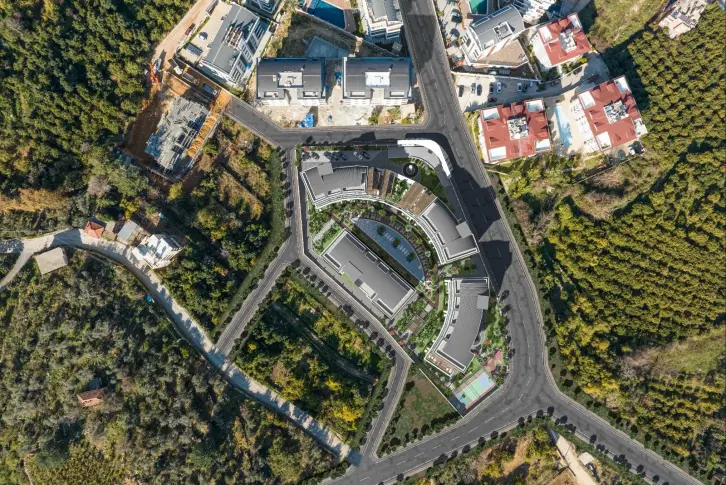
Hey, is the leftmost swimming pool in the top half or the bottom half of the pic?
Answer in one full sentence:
The leftmost swimming pool is in the top half of the image.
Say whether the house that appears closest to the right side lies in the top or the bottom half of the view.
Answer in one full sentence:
The house that appears closest to the right side sits in the top half of the picture.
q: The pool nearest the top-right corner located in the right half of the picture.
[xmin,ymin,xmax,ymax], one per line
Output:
[554,103,573,147]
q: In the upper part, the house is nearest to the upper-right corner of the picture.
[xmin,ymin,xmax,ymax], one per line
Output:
[652,0,708,42]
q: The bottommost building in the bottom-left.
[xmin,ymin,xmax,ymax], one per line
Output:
[78,388,107,406]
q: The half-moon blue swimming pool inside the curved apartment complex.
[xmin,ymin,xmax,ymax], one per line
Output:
[352,218,425,282]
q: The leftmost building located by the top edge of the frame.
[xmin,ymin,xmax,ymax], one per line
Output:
[203,2,267,82]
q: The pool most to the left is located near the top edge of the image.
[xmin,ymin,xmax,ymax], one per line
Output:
[306,0,345,30]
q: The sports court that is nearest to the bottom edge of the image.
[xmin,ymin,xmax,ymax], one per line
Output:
[452,368,500,414]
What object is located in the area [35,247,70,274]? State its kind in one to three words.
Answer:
shed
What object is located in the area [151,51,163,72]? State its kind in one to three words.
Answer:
vehicle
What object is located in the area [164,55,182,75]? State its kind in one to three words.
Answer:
vehicle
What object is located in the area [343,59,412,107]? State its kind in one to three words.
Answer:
building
